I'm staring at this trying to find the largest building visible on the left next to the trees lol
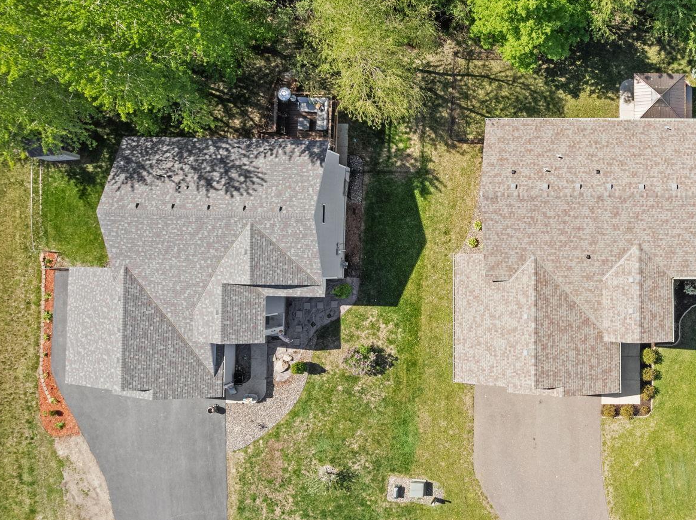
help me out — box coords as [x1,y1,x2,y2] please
[66,138,350,399]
